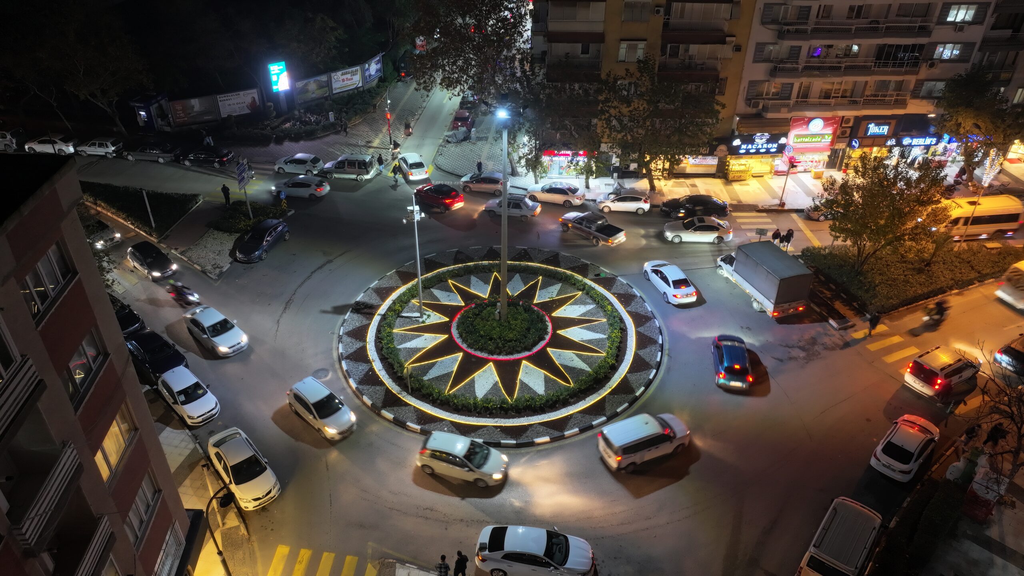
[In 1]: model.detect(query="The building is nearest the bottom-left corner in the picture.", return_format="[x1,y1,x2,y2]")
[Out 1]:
[0,157,213,576]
